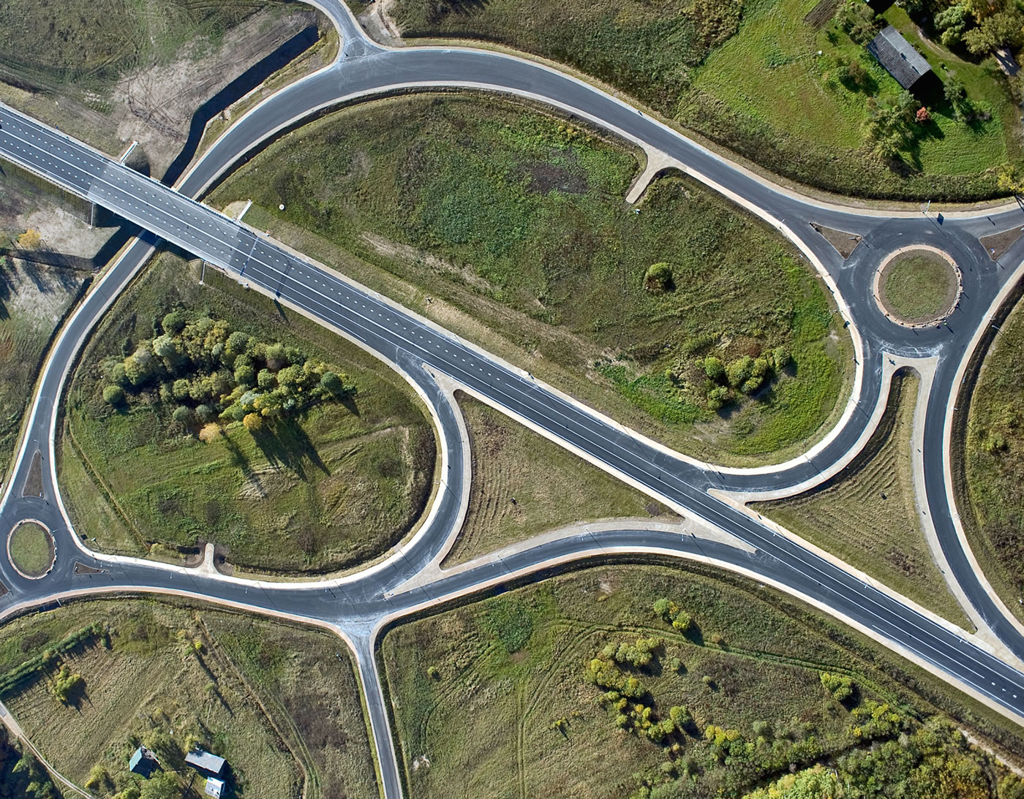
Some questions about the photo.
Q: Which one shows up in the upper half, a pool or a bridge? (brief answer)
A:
bridge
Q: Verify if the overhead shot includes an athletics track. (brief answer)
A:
No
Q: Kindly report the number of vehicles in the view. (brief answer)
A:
0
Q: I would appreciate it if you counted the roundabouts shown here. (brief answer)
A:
2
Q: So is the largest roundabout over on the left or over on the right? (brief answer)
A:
right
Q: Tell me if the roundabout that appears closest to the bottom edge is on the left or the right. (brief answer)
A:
left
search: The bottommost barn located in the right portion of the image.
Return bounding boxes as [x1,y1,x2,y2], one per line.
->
[865,25,931,90]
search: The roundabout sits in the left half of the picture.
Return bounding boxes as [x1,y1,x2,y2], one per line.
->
[6,519,57,581]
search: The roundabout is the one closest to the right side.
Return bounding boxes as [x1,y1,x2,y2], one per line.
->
[873,245,965,327]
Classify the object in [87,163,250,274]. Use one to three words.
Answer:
bridge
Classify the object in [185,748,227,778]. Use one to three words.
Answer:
shed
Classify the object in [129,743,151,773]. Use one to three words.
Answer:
house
